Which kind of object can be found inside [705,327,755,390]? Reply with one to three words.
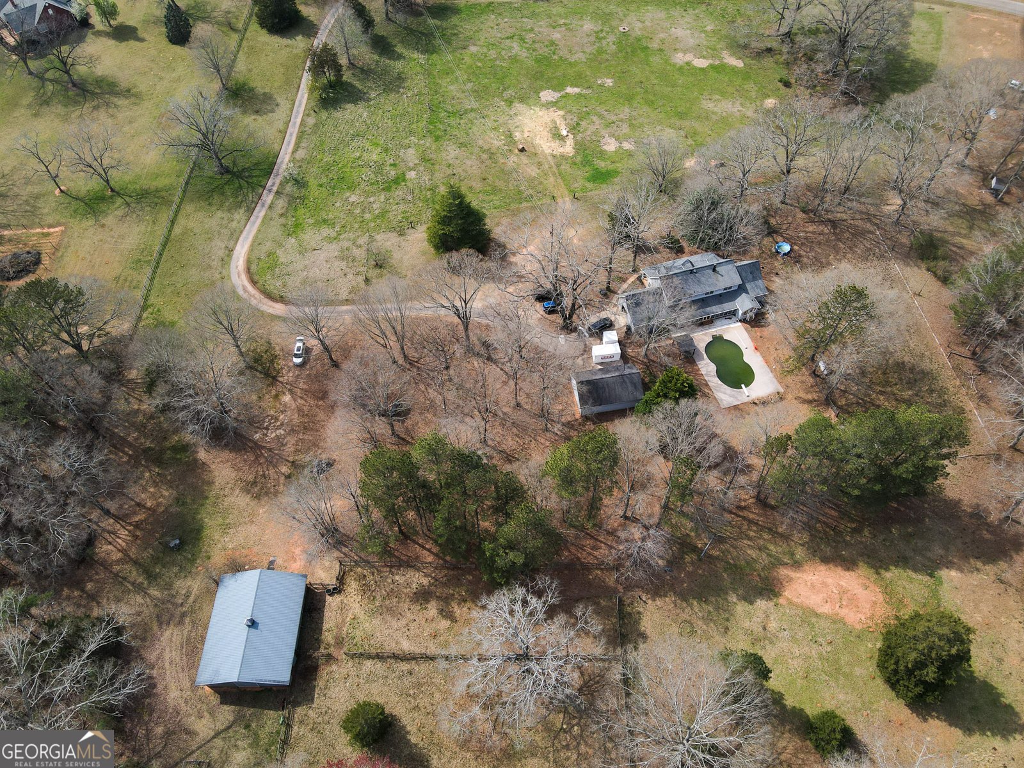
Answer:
swimming pool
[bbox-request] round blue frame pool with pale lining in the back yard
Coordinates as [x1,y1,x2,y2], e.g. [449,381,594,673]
[775,241,792,257]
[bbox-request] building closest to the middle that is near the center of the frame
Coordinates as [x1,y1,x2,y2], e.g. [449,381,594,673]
[573,367,642,414]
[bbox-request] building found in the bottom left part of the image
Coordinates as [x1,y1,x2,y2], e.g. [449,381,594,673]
[193,570,309,687]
